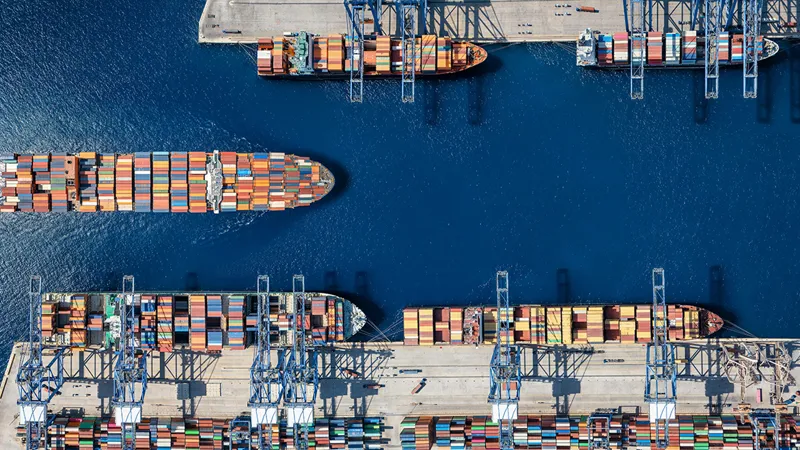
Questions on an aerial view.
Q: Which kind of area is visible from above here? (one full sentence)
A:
This looks like a port.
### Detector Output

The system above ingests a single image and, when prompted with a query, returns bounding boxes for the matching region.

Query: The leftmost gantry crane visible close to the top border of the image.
[341,0,385,105]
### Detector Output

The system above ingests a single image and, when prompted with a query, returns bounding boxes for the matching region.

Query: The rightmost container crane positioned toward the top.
[720,0,765,105]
